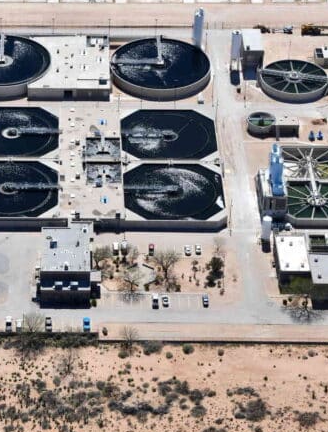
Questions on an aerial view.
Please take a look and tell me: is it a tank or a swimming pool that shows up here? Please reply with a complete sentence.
It is a tank that can be seen here.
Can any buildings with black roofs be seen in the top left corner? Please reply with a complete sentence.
No, there's no building with a black roof to be seen in the top left corner.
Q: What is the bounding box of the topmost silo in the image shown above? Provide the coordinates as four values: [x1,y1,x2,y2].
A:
[192,7,206,48]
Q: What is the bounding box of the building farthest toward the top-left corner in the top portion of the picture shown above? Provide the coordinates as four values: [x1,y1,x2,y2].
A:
[22,34,110,97]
